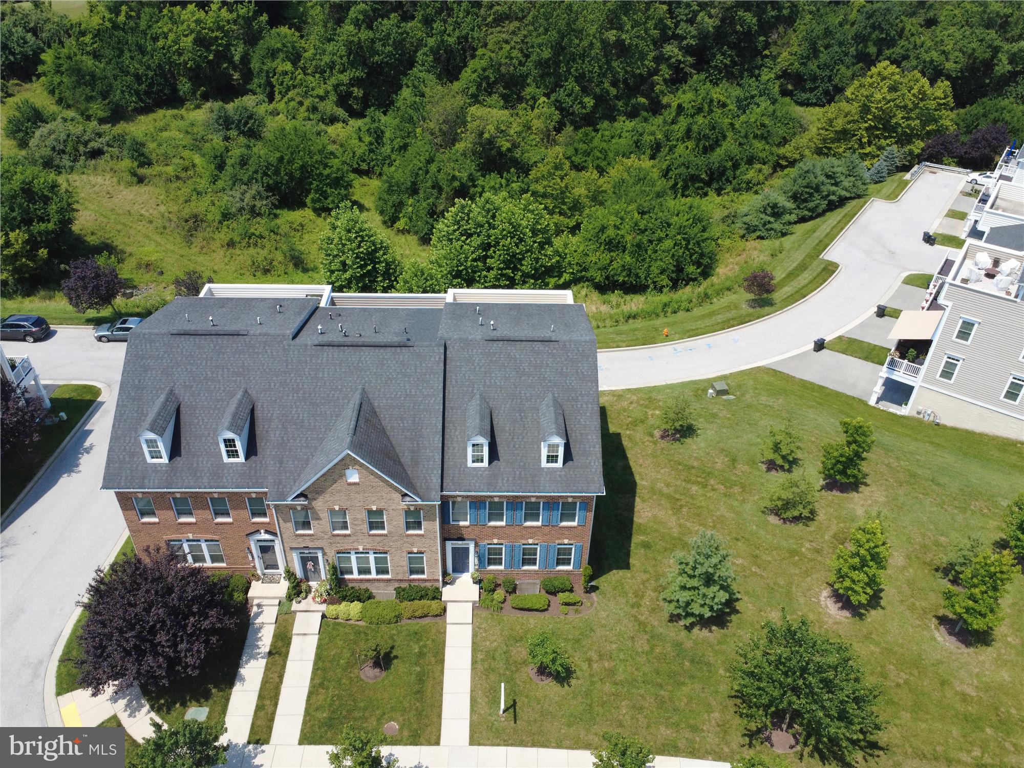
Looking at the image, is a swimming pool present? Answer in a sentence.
No, I can't see a single swimming pool in this photo.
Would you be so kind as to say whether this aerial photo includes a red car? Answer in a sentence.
No, no red car is visible in the scene.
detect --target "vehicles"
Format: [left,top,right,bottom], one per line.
[967,174,994,186]
[0,315,50,342]
[92,318,142,342]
